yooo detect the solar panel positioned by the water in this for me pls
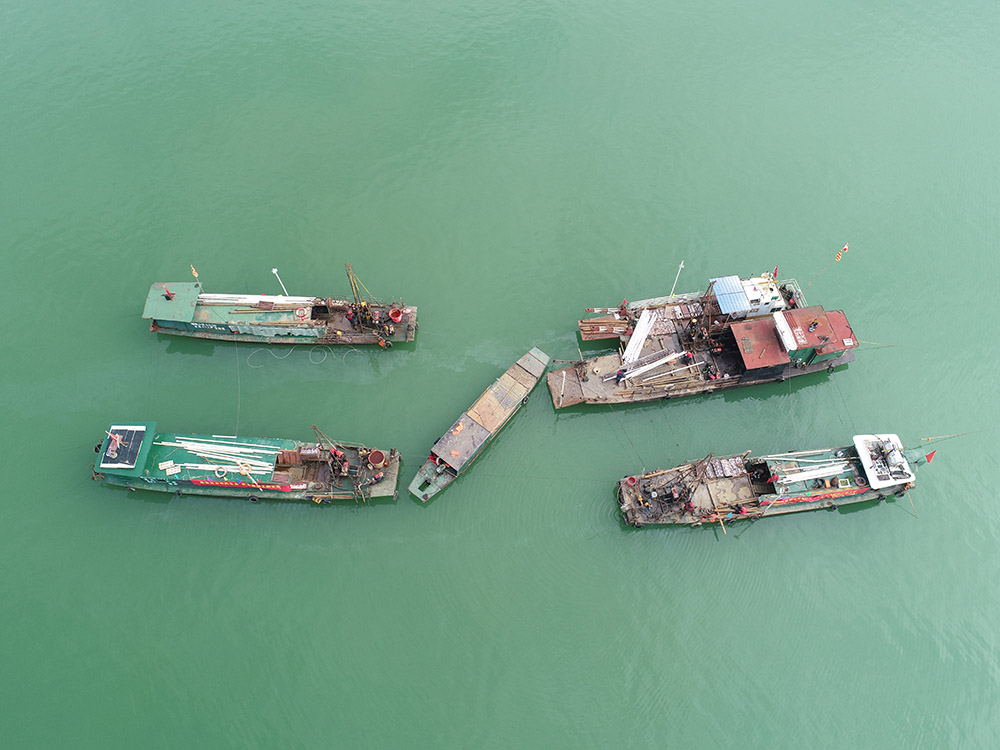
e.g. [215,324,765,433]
[104,430,146,464]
